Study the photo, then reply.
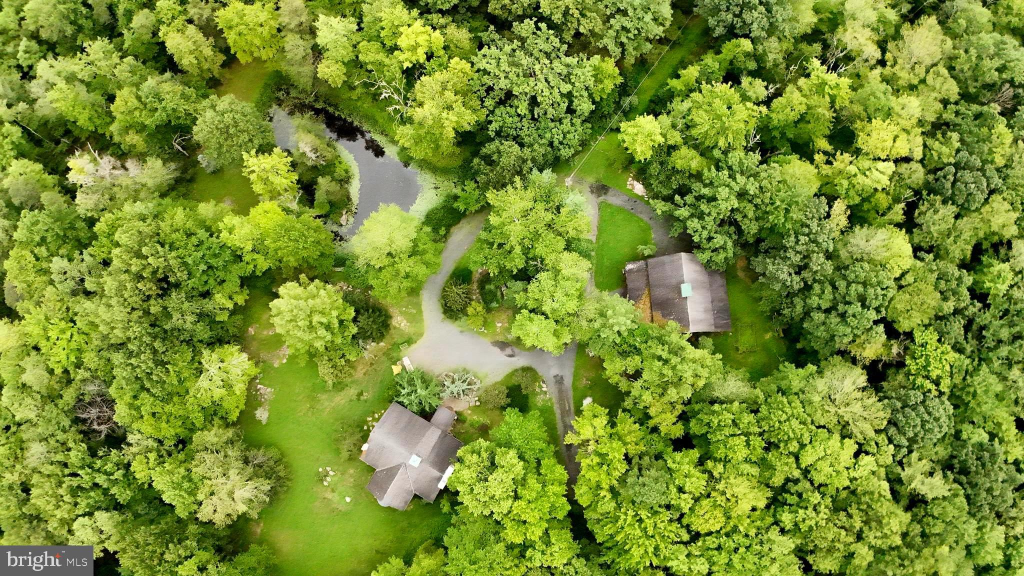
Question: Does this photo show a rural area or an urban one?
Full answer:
The area shown here is rural.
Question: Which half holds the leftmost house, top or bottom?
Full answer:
You can find the leftmost house in the bottom half.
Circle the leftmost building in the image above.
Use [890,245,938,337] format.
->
[360,402,465,510]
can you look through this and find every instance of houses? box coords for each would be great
[624,251,728,335]
[360,402,465,510]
